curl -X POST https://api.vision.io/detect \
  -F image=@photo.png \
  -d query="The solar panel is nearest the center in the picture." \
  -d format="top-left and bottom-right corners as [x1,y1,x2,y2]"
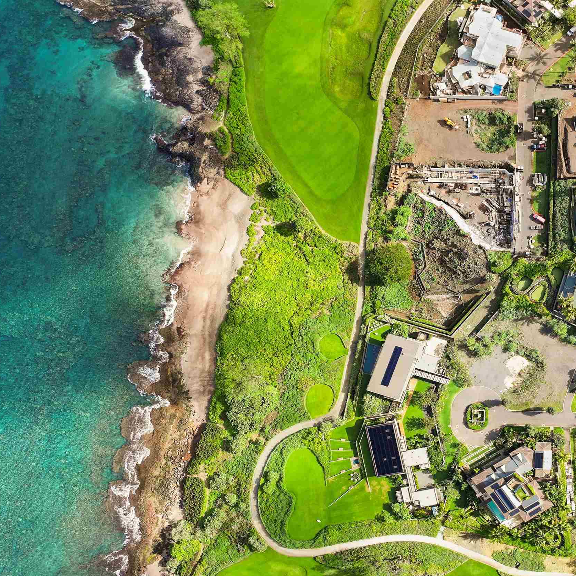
[381,346,403,386]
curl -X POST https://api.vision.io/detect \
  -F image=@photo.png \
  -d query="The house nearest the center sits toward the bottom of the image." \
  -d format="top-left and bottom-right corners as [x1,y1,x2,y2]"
[362,331,450,403]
